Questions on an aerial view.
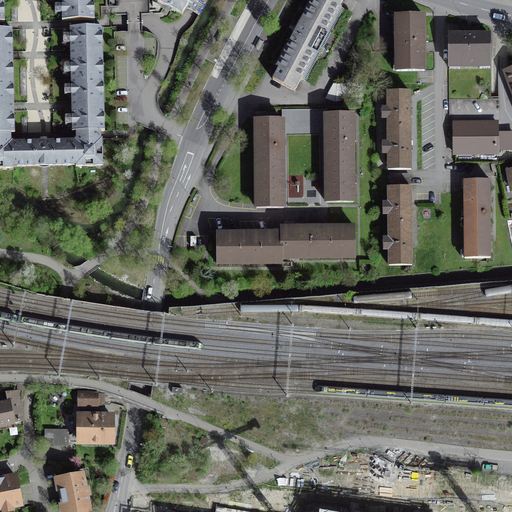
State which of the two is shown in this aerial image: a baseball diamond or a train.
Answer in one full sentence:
Of the two, only a train appears.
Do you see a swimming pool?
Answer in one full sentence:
No, there is no swimming pool in the image.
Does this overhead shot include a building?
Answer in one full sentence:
Yes, the photo shows a building.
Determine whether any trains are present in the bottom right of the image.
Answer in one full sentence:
Yes, a train is visible in the bottom right of the image.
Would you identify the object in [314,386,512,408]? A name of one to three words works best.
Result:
train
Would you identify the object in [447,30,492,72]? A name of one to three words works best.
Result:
house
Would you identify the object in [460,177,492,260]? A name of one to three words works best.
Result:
building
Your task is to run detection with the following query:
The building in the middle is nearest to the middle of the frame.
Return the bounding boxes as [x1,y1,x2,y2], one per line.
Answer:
[216,228,281,266]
